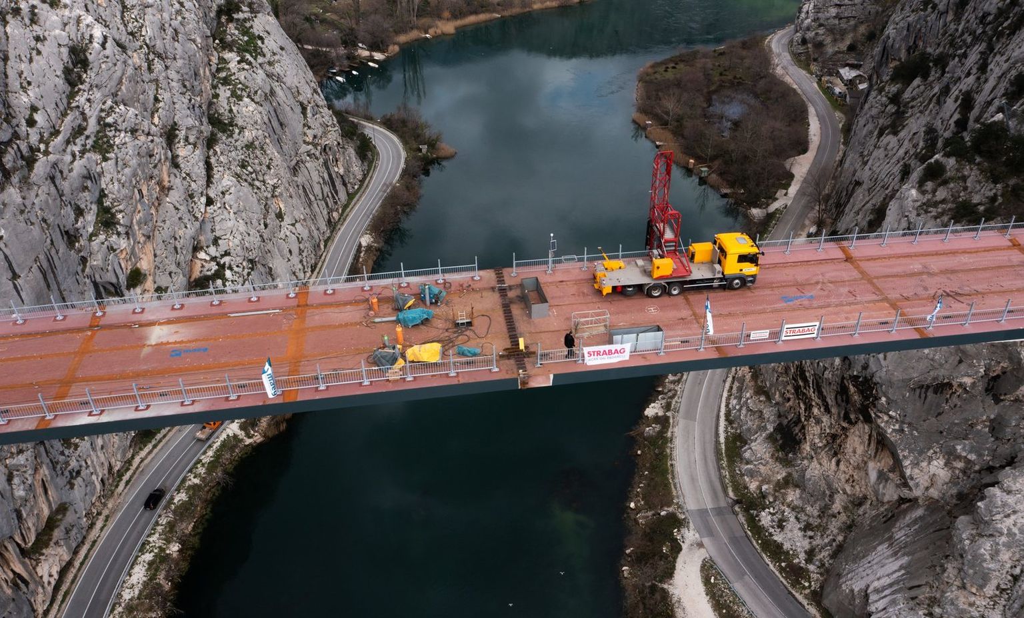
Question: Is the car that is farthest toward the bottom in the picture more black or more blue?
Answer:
black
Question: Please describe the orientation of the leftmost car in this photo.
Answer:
diagonally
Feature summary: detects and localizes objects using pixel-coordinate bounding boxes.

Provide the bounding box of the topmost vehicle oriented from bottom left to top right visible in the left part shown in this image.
[192,425,216,442]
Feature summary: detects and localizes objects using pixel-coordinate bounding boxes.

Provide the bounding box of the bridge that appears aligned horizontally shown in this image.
[0,229,1024,450]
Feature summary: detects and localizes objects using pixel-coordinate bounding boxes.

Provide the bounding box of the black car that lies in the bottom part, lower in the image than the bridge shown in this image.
[142,487,167,509]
